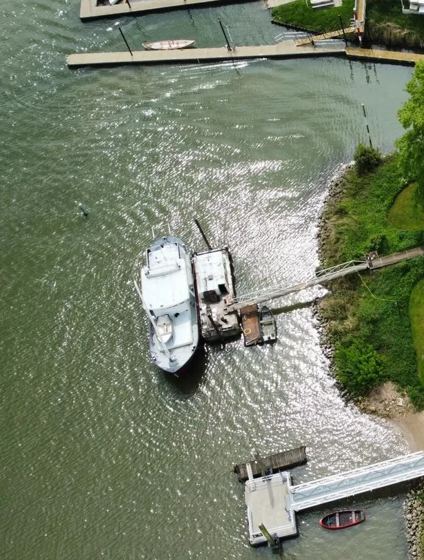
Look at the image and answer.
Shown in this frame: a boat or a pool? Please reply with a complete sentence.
It is a boat that can be seen here.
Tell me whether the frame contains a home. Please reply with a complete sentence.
No, I can't see a single home in this photo.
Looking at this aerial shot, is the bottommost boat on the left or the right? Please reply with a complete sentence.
The bottommost boat is on the right side of the image.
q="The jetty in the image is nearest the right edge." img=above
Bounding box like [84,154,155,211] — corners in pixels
[347,47,424,65]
